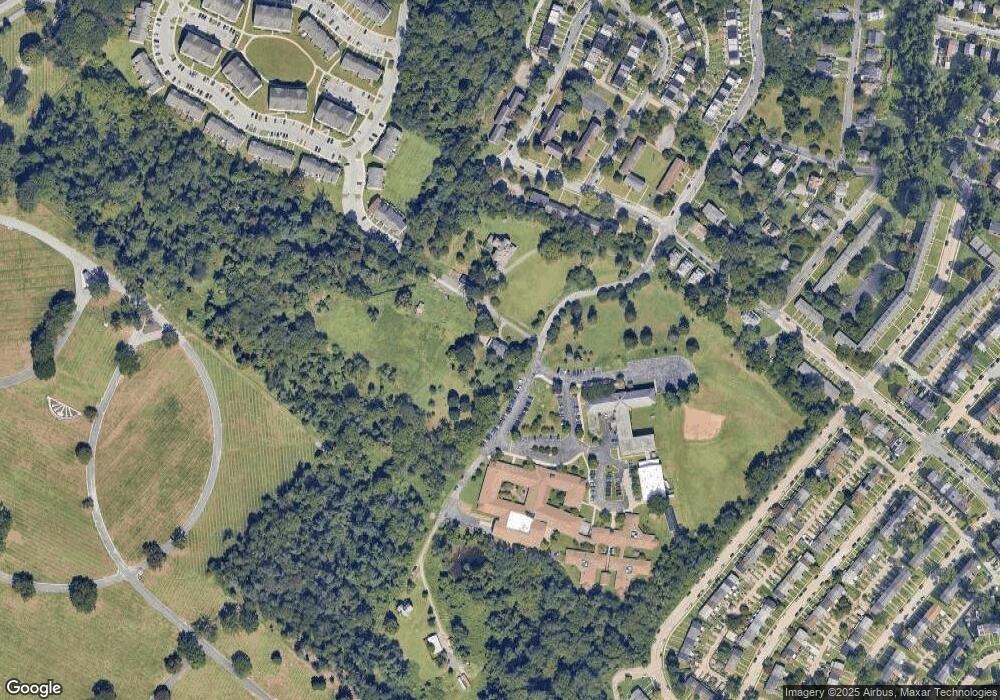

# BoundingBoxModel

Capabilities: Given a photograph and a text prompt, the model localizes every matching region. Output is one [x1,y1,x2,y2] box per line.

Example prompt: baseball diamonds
[684,405,726,441]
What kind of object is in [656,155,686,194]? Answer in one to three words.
building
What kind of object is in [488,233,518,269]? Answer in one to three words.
house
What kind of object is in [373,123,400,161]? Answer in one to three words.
building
